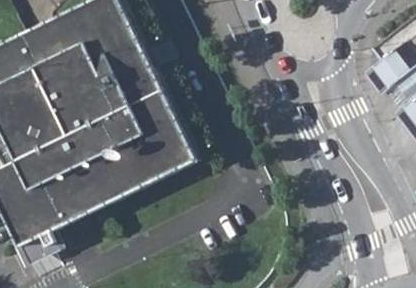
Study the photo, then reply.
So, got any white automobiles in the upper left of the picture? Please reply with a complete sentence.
No, I see no white automobile in the upper left of the picture.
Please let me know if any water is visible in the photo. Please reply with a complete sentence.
No, no water is visible.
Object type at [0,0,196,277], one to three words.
building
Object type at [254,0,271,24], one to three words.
car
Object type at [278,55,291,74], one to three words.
vehicle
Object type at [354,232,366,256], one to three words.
vehicle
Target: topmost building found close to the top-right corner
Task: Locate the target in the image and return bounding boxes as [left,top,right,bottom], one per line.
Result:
[373,12,416,59]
